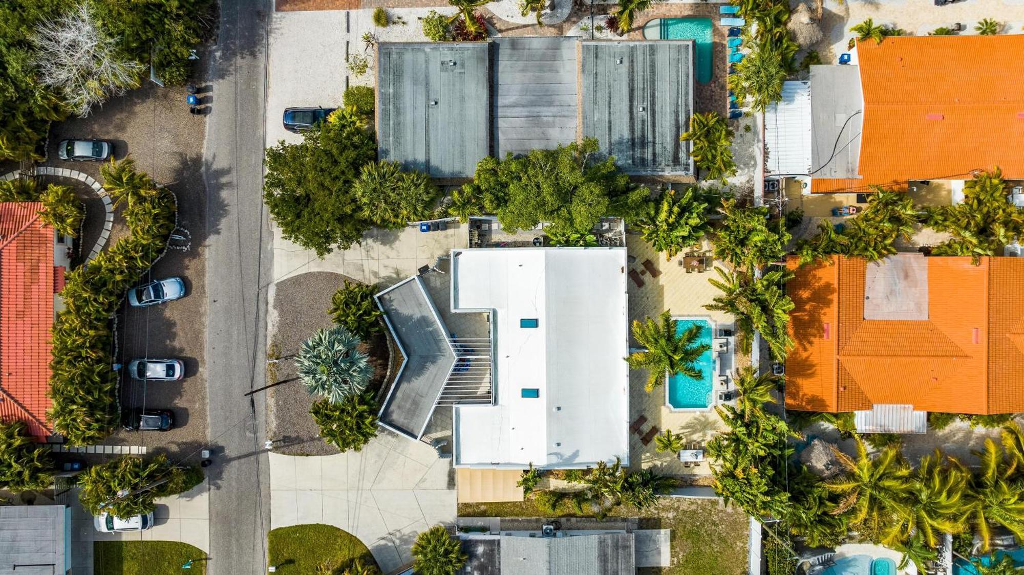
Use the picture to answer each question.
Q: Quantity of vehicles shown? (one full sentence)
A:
The photo contains 6 vehicles.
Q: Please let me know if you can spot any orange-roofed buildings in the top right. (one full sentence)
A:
Yes, the scene does show an orange-roofed building in the top right.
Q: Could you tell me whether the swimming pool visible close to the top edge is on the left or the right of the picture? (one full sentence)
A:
The swimming pool visible close to the top edge sits on the right side.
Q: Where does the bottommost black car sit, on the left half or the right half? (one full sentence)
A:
The bottommost black car sits on the left side.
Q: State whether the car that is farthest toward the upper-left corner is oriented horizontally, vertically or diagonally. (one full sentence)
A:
The car that is farthest toward the upper-left corner has been laid out horizontally relative to the frame.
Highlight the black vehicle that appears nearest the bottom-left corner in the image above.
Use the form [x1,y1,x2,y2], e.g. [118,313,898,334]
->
[123,408,178,434]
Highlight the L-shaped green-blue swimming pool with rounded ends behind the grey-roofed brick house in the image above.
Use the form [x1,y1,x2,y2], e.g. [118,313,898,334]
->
[643,16,715,86]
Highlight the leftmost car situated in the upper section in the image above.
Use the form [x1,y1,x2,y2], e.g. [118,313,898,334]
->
[59,136,115,162]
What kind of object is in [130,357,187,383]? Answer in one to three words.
car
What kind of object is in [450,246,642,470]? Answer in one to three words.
house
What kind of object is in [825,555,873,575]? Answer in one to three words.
swimming pool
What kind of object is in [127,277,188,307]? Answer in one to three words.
car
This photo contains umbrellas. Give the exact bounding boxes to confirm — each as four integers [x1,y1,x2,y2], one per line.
[798,435,839,475]
[779,4,823,48]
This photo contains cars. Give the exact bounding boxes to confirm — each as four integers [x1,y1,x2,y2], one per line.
[59,136,115,162]
[123,408,178,434]
[97,509,156,538]
[282,104,338,132]
[127,277,188,307]
[130,357,187,383]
